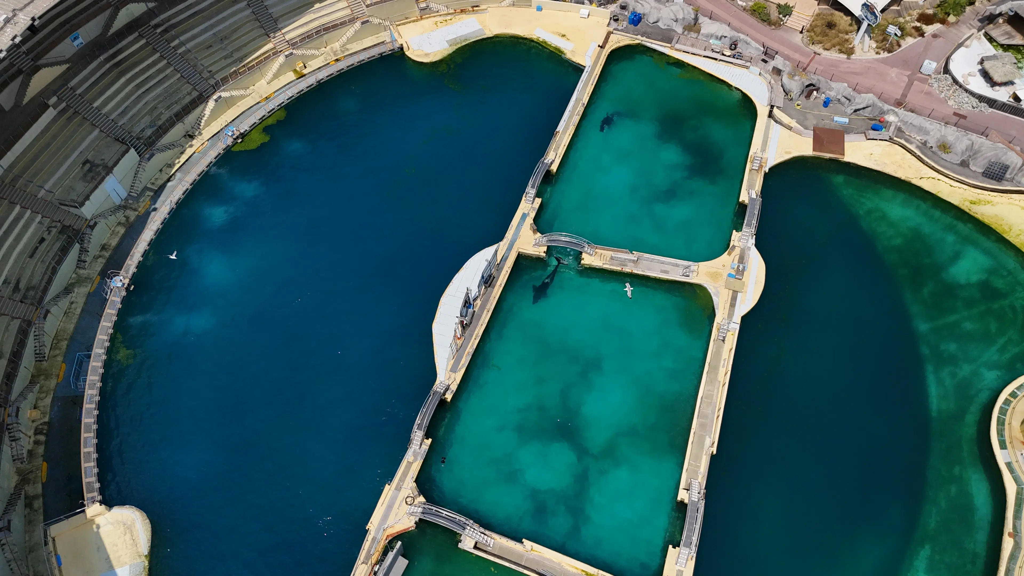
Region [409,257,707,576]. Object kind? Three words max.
swimming pool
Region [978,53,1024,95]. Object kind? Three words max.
shed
